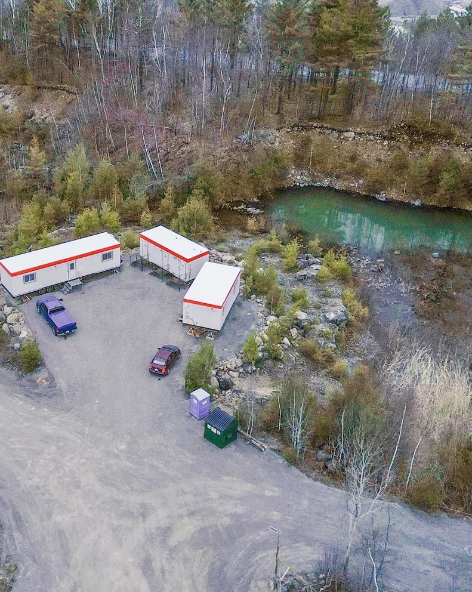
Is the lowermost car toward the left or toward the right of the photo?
left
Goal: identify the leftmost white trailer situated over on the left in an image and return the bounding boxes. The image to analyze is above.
[1,231,125,300]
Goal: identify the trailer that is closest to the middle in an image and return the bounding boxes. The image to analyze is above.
[183,260,243,335]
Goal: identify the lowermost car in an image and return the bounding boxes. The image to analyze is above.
[149,345,179,380]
